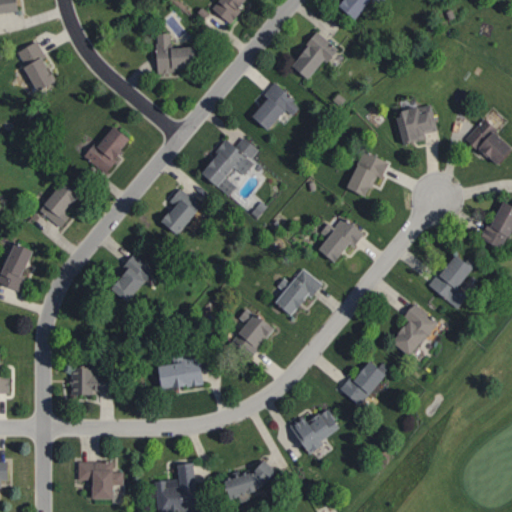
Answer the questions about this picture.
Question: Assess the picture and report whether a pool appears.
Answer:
Yes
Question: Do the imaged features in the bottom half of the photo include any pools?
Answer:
No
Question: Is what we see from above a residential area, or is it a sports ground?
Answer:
residential area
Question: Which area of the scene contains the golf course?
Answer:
bottom right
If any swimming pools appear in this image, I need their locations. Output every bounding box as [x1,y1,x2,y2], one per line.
[226,161,266,212]
[165,12,188,42]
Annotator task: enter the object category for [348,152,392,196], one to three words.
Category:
house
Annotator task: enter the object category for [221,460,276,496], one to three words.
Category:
house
